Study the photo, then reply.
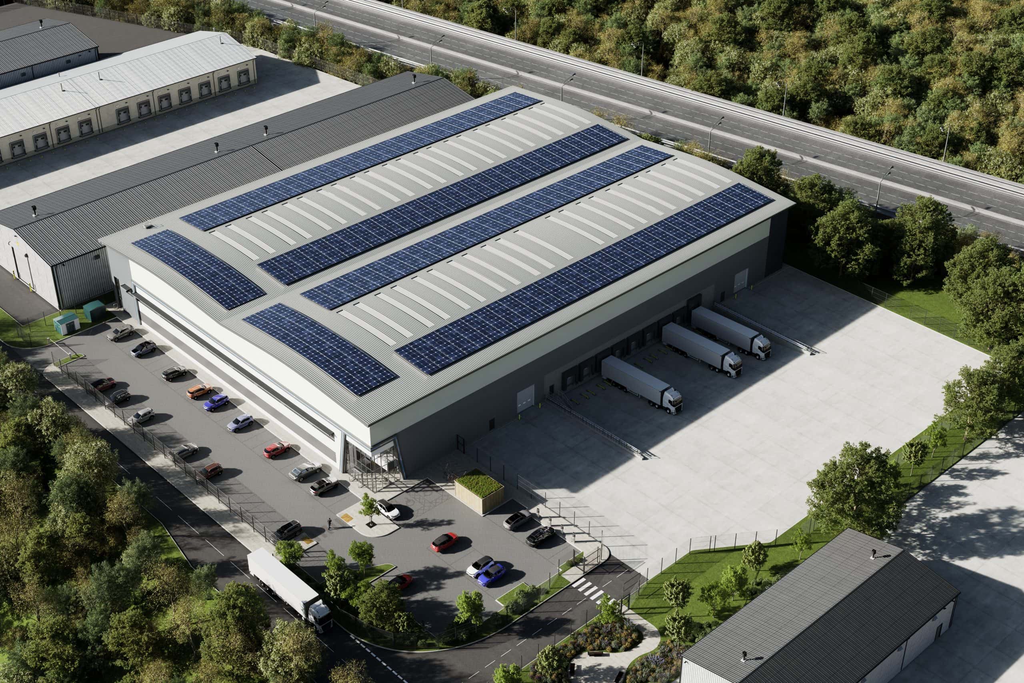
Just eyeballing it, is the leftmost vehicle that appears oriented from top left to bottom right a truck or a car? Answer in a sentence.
From above, the leftmost vehicle that appears oriented from top left to bottom right can be identified as a truck.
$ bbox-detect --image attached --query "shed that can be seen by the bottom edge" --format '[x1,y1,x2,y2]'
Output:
[679,527,963,683]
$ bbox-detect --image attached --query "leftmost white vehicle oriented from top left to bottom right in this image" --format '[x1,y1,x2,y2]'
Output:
[247,547,334,633]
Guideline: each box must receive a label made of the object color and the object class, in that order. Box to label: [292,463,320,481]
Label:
gray car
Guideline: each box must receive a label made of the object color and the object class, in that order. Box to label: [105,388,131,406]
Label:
black car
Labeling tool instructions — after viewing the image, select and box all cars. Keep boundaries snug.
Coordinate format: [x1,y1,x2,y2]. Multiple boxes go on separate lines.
[185,384,212,399]
[527,527,556,547]
[109,324,134,341]
[466,555,495,578]
[127,407,155,426]
[506,512,535,531]
[377,498,401,517]
[194,462,223,482]
[309,477,339,495]
[90,377,117,393]
[160,366,187,381]
[391,571,415,592]
[228,415,253,432]
[204,395,229,411]
[478,563,508,586]
[272,520,302,542]
[292,463,320,481]
[105,388,131,406]
[431,533,458,552]
[131,340,156,357]
[264,443,290,459]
